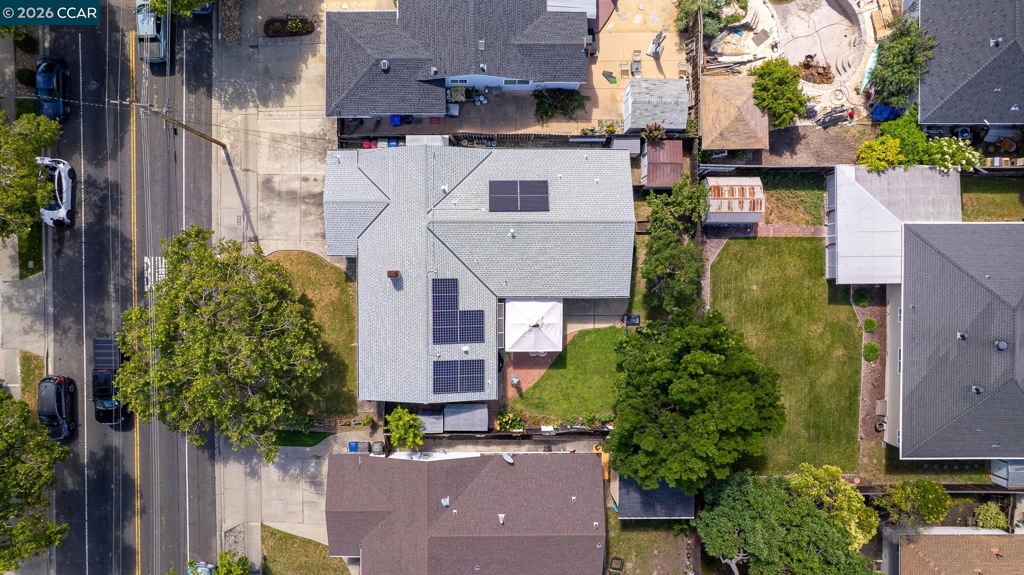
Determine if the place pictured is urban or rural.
urban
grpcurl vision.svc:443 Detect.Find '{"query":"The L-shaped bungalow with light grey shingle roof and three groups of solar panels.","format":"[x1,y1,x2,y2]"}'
[320,144,634,405]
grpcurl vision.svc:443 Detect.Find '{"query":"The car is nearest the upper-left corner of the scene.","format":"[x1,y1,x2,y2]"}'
[29,52,69,121]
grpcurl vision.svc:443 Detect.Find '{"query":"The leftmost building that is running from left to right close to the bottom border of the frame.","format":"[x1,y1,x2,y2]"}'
[323,449,608,575]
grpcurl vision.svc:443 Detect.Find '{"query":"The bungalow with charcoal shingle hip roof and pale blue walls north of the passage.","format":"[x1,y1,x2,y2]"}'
[324,0,596,120]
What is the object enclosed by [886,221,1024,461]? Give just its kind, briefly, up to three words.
house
